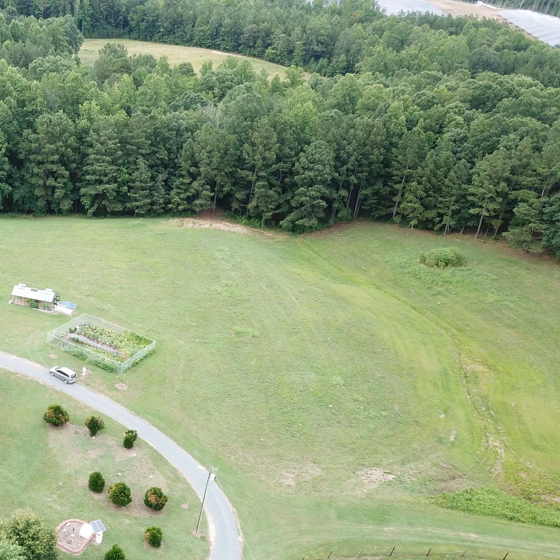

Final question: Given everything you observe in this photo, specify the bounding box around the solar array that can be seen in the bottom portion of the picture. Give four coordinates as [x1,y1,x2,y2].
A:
[91,518,108,533]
